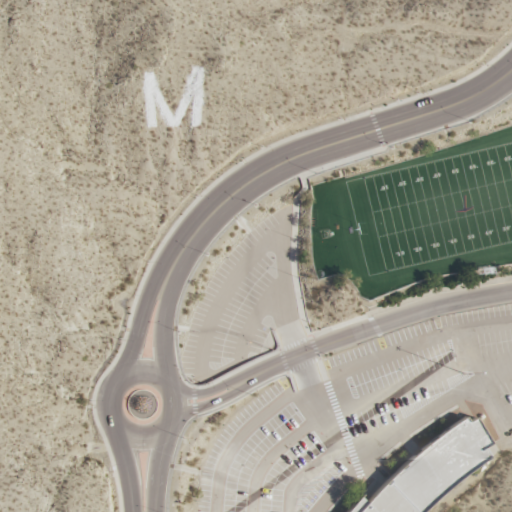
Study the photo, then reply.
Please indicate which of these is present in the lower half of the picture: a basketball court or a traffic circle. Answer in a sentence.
There is a traffic circle in the lower half of the picture.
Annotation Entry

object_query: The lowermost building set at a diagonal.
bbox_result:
[356,418,499,512]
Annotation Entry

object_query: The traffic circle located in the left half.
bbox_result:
[109,370,176,437]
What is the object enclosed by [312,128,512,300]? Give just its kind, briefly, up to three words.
sports field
